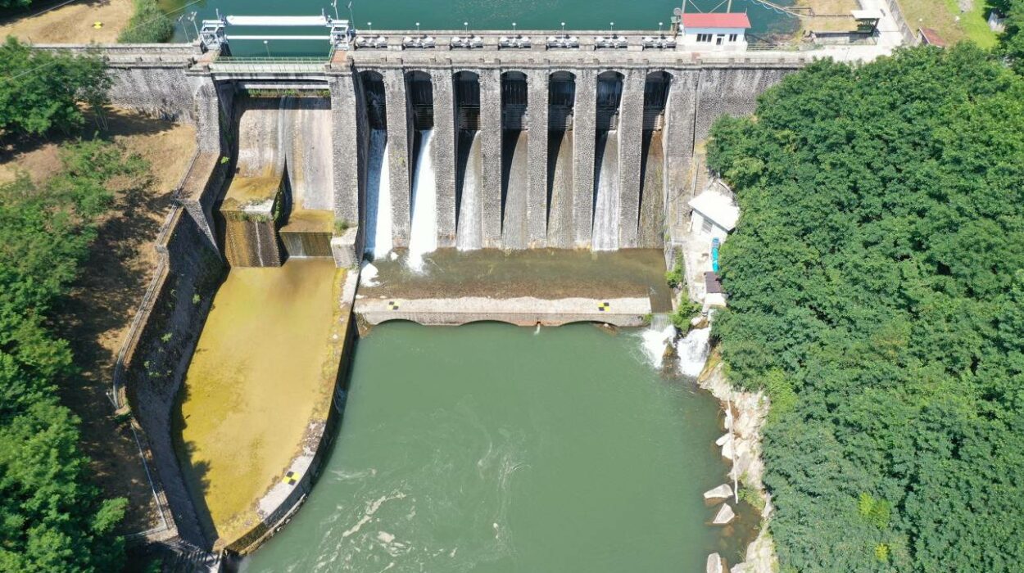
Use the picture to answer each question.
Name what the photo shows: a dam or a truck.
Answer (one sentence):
Of the two, only a dam appears.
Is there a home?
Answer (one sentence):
Yes, there's a home down there.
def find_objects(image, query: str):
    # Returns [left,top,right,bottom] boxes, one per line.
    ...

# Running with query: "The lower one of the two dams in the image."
[354,295,652,326]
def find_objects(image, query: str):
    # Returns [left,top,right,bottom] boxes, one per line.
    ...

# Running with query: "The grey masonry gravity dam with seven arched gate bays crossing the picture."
[0,30,1024,264]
